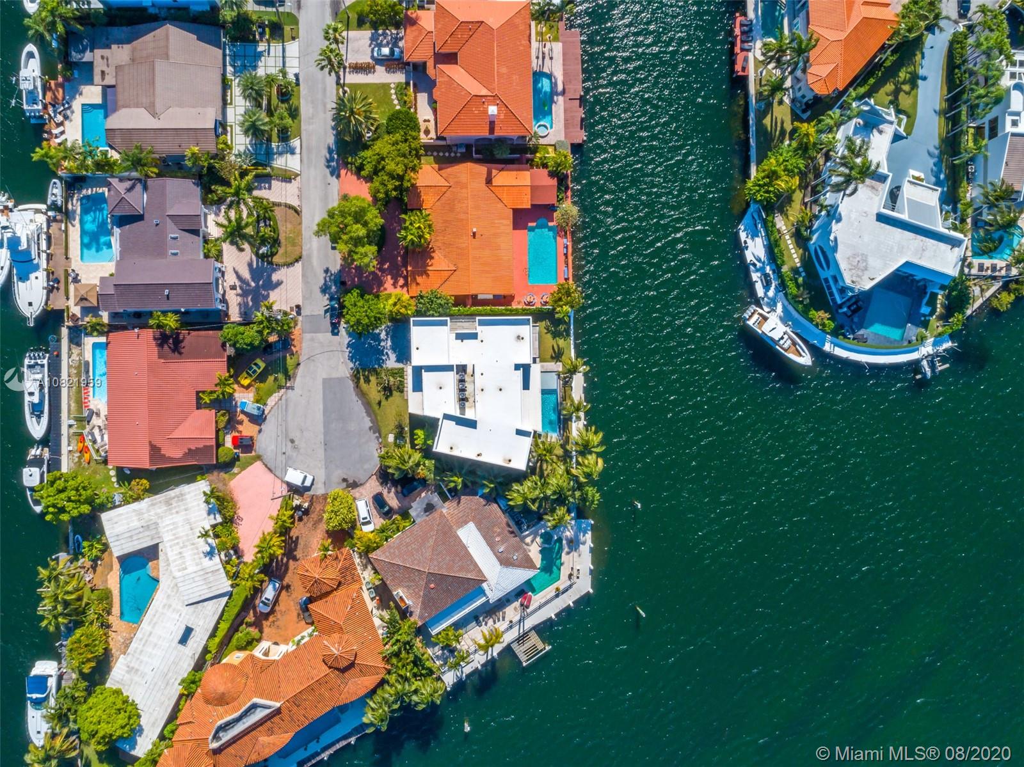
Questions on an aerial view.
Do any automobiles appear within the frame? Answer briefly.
Yes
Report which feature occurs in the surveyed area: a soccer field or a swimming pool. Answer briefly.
swimming pool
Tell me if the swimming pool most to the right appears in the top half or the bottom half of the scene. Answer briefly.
top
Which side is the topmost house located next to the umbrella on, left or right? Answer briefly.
left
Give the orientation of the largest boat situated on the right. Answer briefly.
at an angle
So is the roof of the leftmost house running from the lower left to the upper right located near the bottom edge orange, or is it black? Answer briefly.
orange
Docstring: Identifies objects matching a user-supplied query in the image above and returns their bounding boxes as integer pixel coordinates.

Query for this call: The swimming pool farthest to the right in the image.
[969,222,1024,262]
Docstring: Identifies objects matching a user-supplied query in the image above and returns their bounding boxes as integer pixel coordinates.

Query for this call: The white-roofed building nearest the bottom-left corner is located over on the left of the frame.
[102,480,231,755]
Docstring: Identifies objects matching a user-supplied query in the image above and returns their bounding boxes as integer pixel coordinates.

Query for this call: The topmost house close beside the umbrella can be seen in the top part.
[97,178,225,311]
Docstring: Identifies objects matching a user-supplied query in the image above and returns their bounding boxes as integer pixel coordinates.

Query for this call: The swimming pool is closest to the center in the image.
[539,369,561,437]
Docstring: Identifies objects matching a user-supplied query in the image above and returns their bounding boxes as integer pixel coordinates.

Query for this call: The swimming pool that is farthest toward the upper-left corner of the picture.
[79,101,113,152]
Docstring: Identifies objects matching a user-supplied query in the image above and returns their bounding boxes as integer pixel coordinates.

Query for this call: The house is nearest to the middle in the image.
[404,317,541,470]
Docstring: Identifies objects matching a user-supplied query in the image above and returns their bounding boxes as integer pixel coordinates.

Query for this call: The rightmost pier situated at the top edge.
[734,16,749,76]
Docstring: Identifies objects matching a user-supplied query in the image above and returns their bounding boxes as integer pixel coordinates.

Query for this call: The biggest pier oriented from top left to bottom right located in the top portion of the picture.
[736,204,952,364]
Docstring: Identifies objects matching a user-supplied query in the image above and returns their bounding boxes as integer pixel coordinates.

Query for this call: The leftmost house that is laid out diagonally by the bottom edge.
[157,547,385,767]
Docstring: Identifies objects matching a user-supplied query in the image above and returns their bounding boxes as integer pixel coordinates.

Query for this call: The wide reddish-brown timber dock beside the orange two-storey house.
[559,11,584,145]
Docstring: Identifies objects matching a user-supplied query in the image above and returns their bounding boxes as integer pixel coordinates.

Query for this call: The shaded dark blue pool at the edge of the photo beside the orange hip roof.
[759,0,786,41]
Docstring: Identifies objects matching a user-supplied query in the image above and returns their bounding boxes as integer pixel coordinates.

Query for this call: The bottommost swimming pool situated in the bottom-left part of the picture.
[118,553,160,626]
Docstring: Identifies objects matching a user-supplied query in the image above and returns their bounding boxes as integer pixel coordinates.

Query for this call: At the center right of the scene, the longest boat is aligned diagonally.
[740,303,809,362]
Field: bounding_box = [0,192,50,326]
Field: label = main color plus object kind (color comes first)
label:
white boat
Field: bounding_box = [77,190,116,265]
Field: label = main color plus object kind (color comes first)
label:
blue swimming pool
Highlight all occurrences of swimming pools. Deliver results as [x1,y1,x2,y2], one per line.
[864,285,913,342]
[118,553,160,626]
[520,531,564,597]
[89,340,108,406]
[77,190,116,265]
[526,216,559,286]
[759,0,786,41]
[532,69,555,137]
[539,369,561,437]
[79,101,113,152]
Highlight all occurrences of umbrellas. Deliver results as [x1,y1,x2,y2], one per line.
[74,284,98,307]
